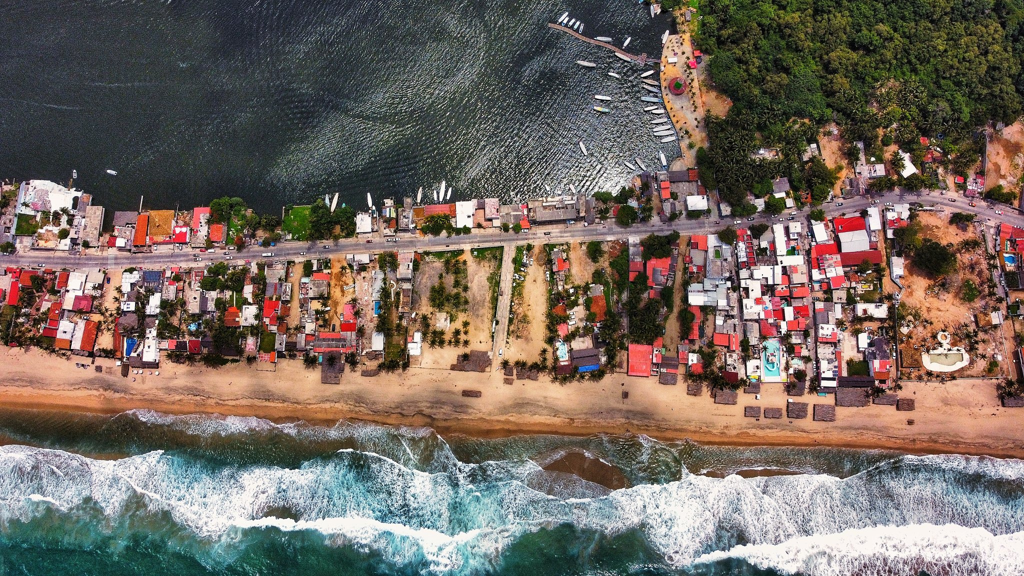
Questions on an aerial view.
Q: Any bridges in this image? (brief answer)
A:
No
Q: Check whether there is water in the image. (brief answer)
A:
Yes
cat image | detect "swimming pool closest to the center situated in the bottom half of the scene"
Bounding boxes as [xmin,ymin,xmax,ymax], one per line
[556,343,568,358]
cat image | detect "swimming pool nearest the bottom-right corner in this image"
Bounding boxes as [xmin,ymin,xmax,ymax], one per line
[928,353,964,366]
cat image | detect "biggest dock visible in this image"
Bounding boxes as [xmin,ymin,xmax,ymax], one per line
[548,23,638,59]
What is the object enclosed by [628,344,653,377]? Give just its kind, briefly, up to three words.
house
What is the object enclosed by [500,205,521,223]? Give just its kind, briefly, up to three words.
house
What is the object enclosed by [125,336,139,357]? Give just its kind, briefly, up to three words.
swimming pool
